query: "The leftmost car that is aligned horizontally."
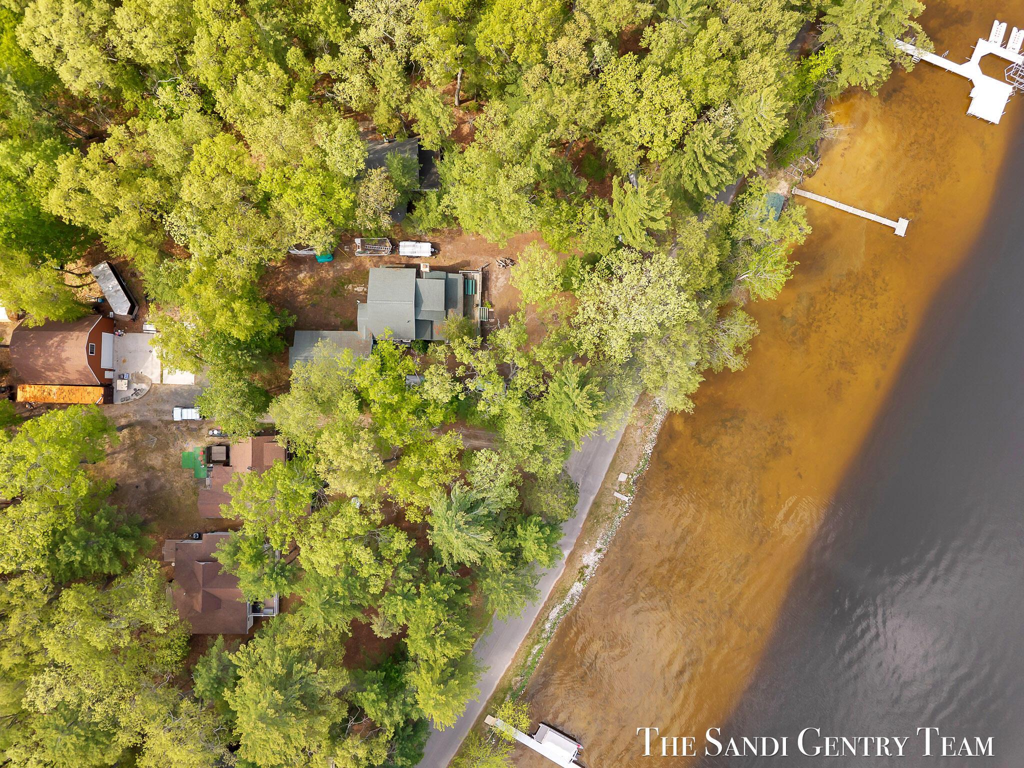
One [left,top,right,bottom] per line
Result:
[171,407,204,422]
